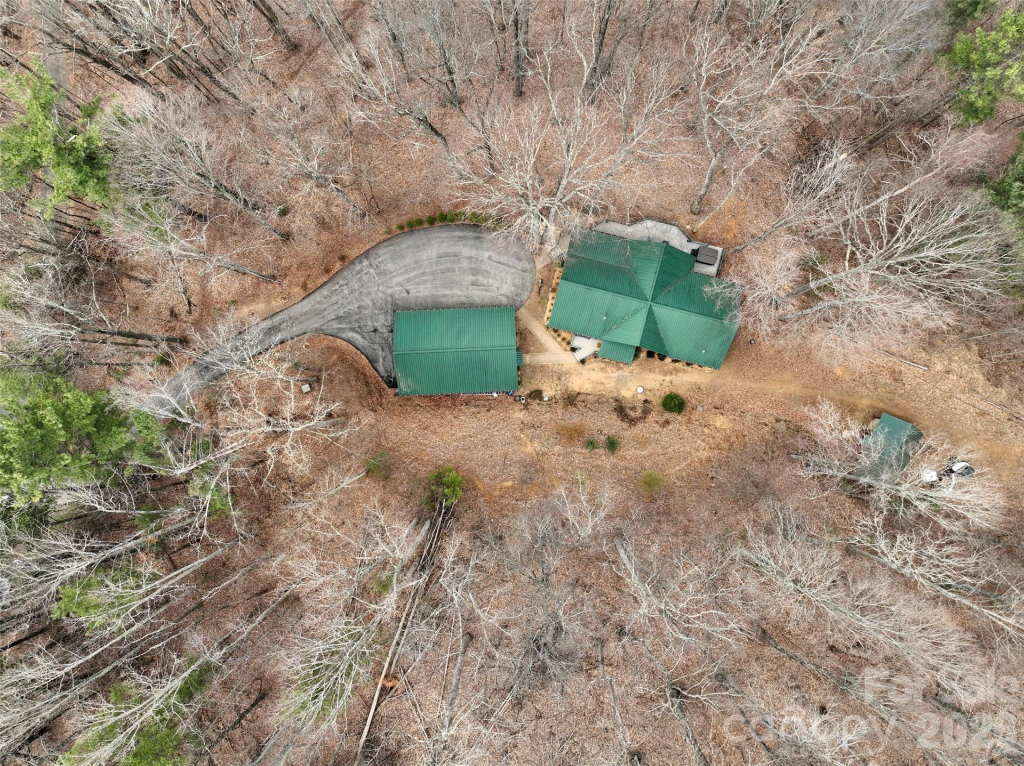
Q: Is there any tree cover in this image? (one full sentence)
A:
Yes, tree cover can be seen from above here.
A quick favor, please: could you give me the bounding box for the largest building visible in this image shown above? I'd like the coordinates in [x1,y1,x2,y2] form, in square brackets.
[548,218,742,370]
